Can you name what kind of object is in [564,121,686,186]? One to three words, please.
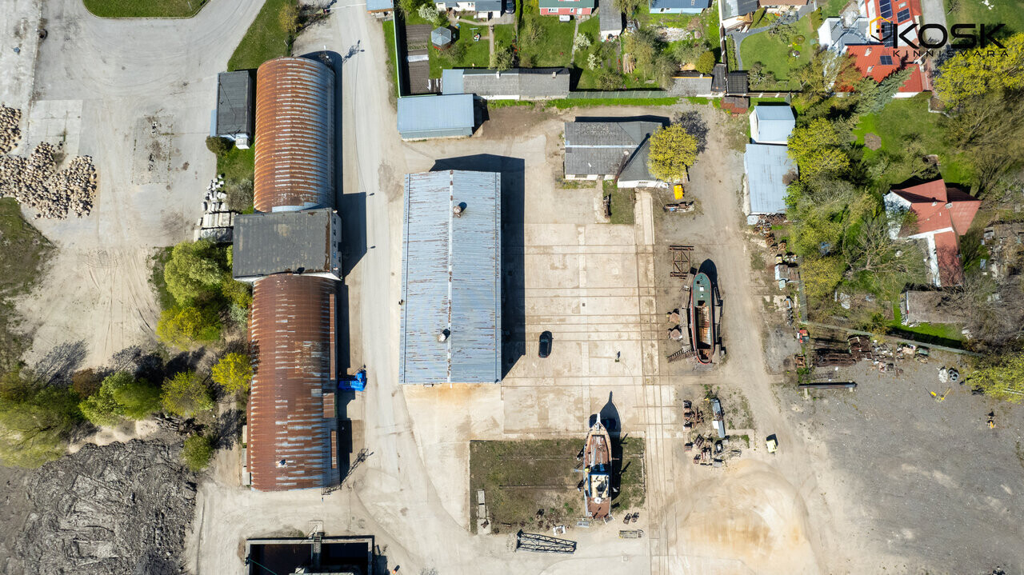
building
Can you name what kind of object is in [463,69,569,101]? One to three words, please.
shed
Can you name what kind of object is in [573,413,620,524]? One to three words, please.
ship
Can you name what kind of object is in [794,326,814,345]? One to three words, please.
work vehicle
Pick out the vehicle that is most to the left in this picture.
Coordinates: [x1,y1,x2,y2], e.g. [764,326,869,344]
[339,367,363,390]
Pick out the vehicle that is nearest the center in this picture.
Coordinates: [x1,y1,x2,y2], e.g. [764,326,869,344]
[539,331,552,356]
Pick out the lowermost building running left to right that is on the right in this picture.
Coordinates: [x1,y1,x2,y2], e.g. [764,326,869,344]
[899,291,970,326]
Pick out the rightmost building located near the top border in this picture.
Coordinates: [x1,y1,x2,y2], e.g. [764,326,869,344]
[822,0,931,100]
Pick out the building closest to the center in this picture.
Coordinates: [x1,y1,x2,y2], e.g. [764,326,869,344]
[399,170,502,387]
